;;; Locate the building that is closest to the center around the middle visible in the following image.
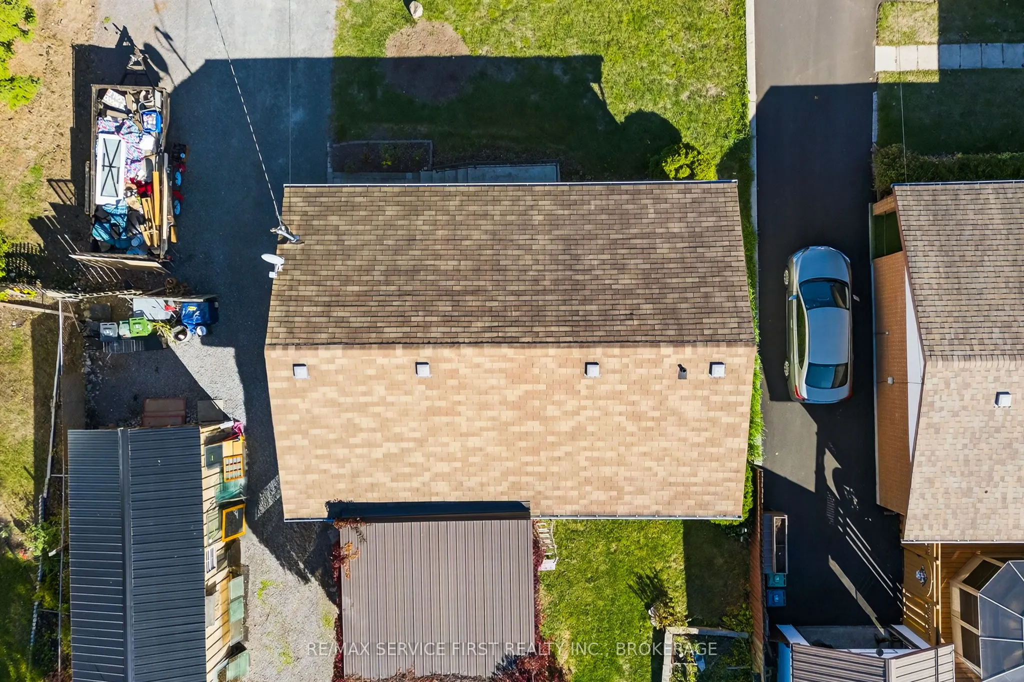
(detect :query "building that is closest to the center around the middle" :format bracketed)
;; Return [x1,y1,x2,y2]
[264,179,757,523]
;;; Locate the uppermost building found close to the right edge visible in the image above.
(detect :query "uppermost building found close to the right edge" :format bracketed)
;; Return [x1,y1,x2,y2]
[868,181,1024,546]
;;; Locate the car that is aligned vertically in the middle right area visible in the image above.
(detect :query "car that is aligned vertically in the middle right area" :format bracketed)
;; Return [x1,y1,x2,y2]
[781,246,858,405]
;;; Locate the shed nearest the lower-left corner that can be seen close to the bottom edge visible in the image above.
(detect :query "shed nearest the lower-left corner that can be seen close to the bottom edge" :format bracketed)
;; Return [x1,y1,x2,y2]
[67,425,222,682]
